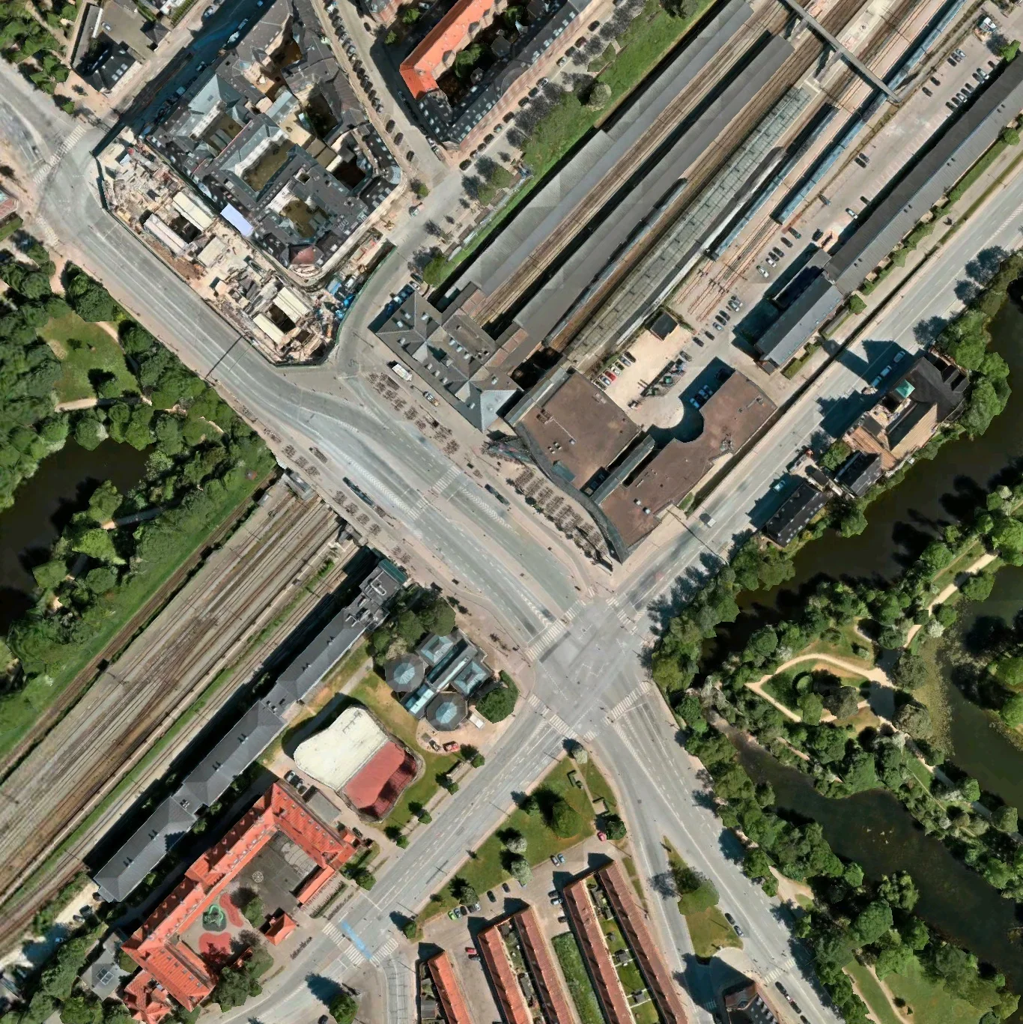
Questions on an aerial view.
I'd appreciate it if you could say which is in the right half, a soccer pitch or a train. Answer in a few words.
train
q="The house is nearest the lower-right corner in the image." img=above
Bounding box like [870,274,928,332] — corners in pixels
[717,970,776,1024]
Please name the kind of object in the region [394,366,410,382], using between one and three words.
vehicle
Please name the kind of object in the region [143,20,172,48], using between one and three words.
house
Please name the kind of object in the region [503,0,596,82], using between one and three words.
building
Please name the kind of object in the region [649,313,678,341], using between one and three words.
shed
